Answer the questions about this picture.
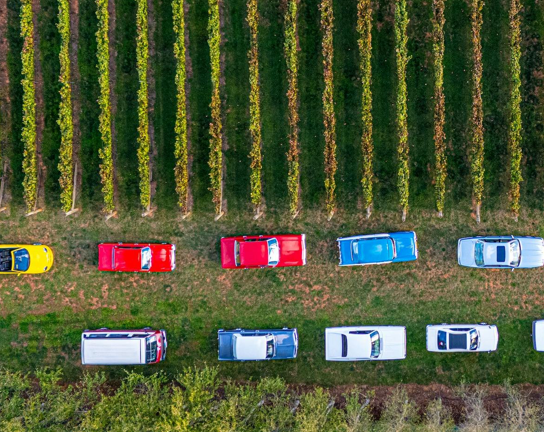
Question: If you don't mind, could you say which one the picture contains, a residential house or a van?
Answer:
van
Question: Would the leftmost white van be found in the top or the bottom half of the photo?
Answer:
bottom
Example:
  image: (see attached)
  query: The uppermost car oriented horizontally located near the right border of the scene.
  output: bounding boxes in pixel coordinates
[458,234,544,272]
